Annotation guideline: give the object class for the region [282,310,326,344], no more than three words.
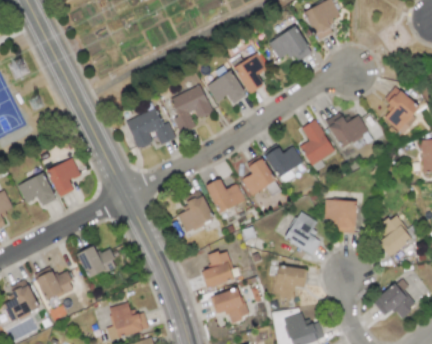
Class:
house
